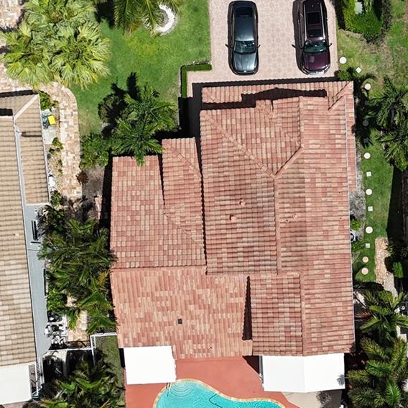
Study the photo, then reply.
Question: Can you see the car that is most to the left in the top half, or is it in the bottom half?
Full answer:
The car that is most to the left is in the top half of the image.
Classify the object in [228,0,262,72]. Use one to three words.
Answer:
car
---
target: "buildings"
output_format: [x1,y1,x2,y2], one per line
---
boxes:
[0,93,52,368]
[110,79,357,360]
